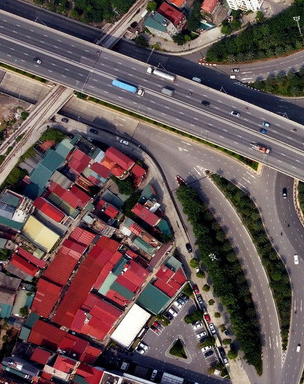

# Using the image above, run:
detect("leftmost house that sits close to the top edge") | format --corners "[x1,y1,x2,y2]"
[144,13,169,37]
